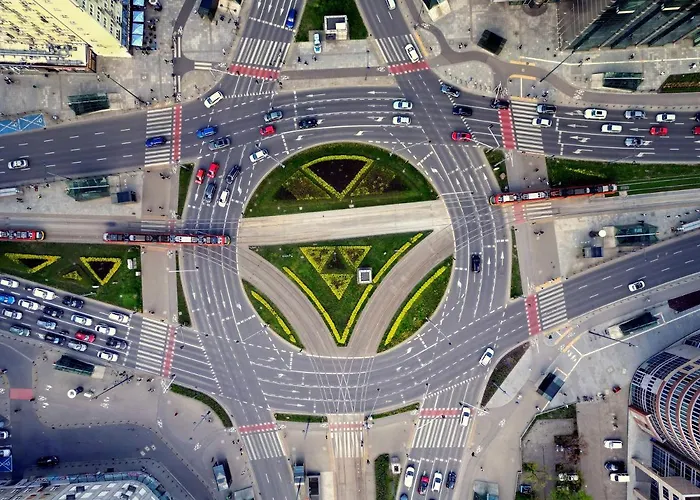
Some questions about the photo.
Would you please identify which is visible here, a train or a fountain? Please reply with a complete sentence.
Of the two, only a train appears.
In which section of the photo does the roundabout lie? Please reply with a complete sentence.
Look in the center portion of the view to spot the roundabout.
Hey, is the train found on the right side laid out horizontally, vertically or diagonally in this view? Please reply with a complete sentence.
The train found on the right side runs horizontally in the image.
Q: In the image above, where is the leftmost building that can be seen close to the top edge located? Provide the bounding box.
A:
[0,0,131,73]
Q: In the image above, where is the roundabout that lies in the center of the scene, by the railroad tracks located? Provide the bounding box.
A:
[182,84,527,416]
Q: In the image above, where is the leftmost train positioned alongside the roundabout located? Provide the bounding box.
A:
[105,232,234,246]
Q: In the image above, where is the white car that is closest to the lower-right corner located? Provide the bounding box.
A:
[608,472,634,484]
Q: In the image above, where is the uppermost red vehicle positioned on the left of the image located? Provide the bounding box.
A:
[258,124,278,137]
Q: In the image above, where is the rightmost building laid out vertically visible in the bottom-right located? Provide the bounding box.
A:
[628,328,700,483]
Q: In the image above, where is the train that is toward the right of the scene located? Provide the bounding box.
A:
[485,181,615,207]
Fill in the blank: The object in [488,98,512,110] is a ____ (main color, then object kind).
black vehicle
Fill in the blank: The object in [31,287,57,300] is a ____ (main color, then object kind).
white vehicle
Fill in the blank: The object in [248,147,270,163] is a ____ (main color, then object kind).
white car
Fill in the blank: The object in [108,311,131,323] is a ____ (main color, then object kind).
white vehicle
